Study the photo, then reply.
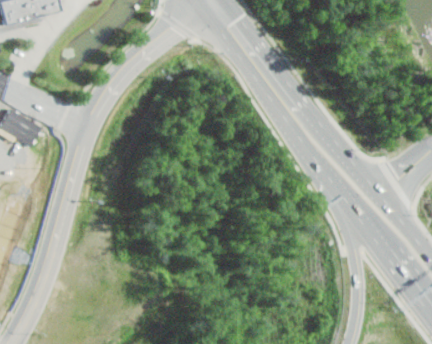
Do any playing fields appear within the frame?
No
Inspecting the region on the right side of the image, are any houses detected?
No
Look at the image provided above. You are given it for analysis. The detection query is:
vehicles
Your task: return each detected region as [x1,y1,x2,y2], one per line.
[400,266,410,277]
[14,48,26,56]
[405,165,414,173]
[421,254,429,262]
[383,205,391,214]
[354,206,362,215]
[12,144,20,156]
[34,104,43,111]
[344,149,352,158]
[312,163,320,172]
[376,184,385,194]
